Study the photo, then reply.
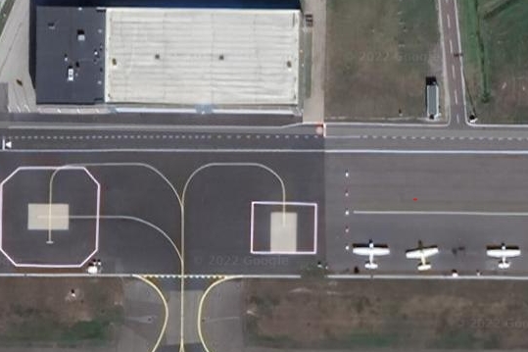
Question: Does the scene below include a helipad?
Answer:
Yes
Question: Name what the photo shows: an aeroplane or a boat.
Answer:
aeroplane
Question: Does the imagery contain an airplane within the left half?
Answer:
No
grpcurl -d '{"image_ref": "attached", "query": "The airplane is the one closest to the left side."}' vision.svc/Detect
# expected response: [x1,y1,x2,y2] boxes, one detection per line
[352,243,389,270]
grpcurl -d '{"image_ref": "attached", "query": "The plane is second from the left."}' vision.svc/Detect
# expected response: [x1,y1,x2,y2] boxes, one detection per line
[405,246,438,273]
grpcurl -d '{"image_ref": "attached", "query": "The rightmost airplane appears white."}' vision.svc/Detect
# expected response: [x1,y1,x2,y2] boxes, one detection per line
[486,246,520,271]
